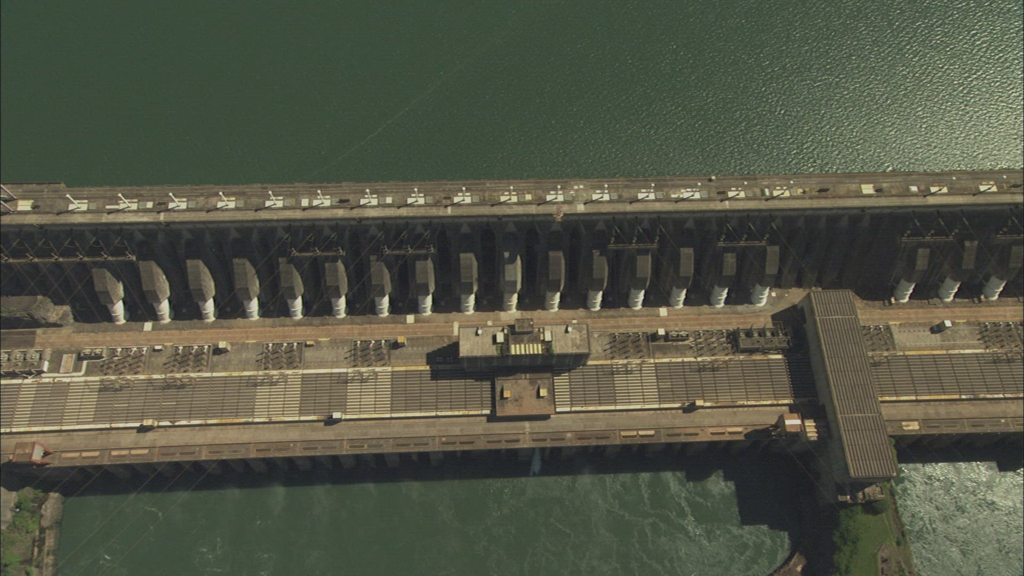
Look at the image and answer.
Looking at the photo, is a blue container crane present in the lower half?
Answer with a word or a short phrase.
No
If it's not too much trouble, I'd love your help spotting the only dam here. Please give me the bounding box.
[0,169,1024,323]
